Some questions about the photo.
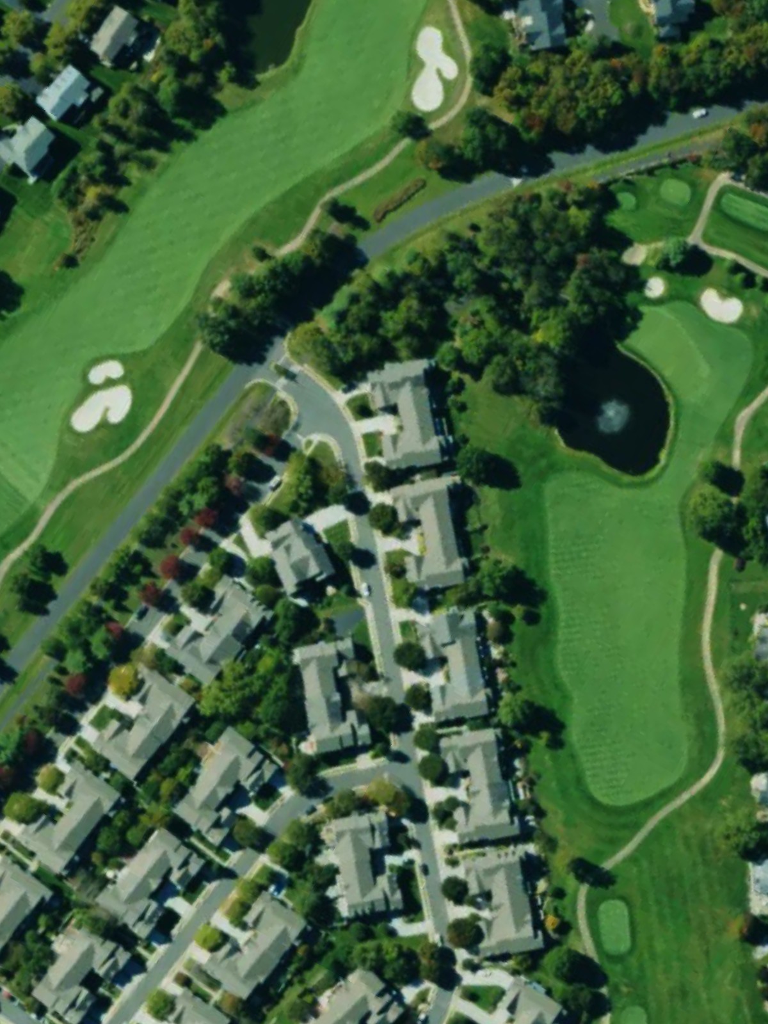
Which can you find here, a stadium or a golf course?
golf course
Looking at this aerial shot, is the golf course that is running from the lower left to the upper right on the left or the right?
left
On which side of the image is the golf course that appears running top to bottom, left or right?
right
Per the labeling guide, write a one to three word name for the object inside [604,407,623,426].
fountain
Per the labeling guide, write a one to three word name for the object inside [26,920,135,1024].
house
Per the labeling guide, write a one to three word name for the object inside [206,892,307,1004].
house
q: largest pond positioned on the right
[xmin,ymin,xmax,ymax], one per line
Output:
[545,345,670,475]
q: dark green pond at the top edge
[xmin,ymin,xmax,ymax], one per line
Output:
[226,0,312,77]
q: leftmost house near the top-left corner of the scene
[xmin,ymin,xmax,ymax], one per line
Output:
[0,112,57,170]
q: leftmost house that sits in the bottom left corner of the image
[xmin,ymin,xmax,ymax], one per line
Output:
[0,857,52,955]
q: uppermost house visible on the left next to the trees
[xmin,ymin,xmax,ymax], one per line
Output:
[91,5,160,63]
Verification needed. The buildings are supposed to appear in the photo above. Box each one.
[99,829,207,944]
[440,730,521,842]
[92,670,198,782]
[314,973,407,1024]
[463,851,543,960]
[369,358,450,471]
[750,860,768,916]
[37,62,110,119]
[391,478,470,591]
[173,733,281,850]
[0,112,57,170]
[325,811,405,921]
[292,636,374,754]
[168,992,228,1024]
[91,5,160,63]
[416,610,495,723]
[499,978,563,1024]
[0,857,52,955]
[18,764,126,876]
[26,920,135,1024]
[509,0,567,44]
[167,577,275,689]
[206,892,307,1004]
[749,611,768,666]
[265,516,333,600]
